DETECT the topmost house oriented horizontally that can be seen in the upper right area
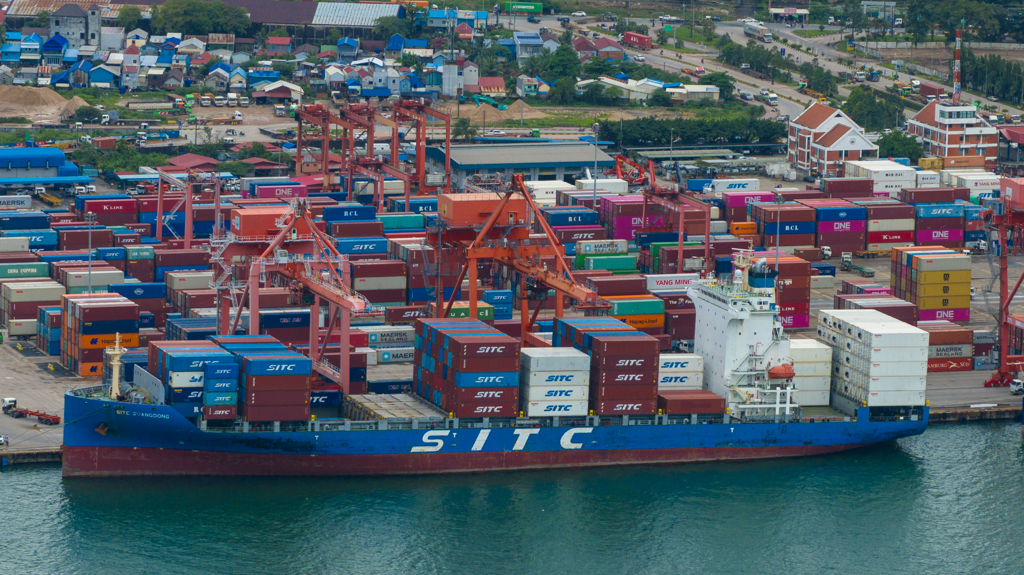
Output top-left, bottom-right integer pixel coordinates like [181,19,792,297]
[762,8,812,23]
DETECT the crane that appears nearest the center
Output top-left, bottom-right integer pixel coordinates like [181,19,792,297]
[418,164,609,348]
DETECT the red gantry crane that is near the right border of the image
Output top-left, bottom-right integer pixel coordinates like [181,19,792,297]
[986,174,1024,386]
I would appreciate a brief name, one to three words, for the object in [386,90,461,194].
container crane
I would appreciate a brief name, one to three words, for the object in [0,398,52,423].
truck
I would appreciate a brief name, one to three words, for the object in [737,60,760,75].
vehicle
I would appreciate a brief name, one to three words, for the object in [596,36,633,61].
house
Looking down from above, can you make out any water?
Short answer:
Yes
